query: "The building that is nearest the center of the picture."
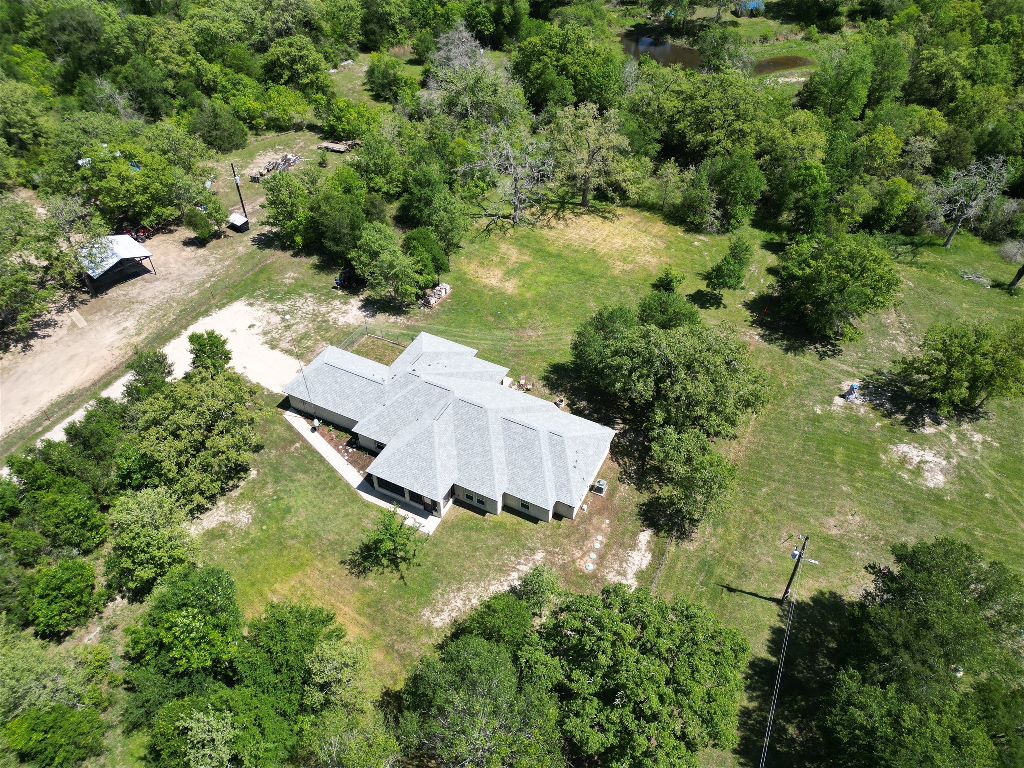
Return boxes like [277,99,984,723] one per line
[282,332,618,525]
